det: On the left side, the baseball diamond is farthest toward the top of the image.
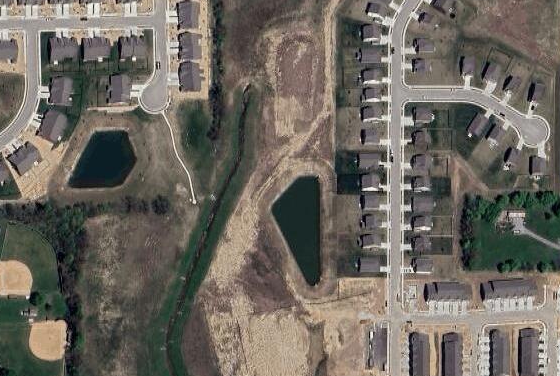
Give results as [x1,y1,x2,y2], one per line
[0,224,62,297]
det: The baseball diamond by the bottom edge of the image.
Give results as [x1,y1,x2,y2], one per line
[0,319,67,376]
